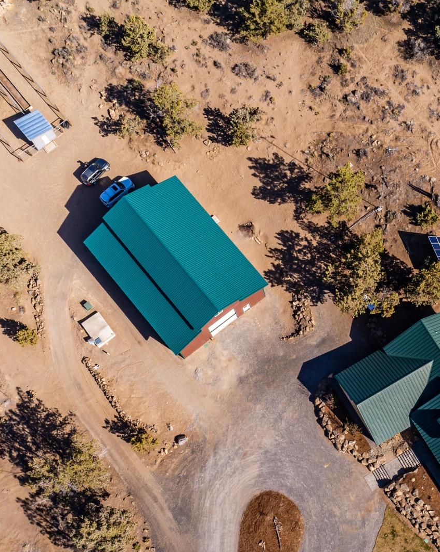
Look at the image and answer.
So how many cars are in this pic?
2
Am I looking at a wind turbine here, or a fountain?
wind turbine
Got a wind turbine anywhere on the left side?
No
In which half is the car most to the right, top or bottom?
top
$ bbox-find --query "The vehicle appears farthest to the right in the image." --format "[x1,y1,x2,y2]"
[100,175,135,206]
